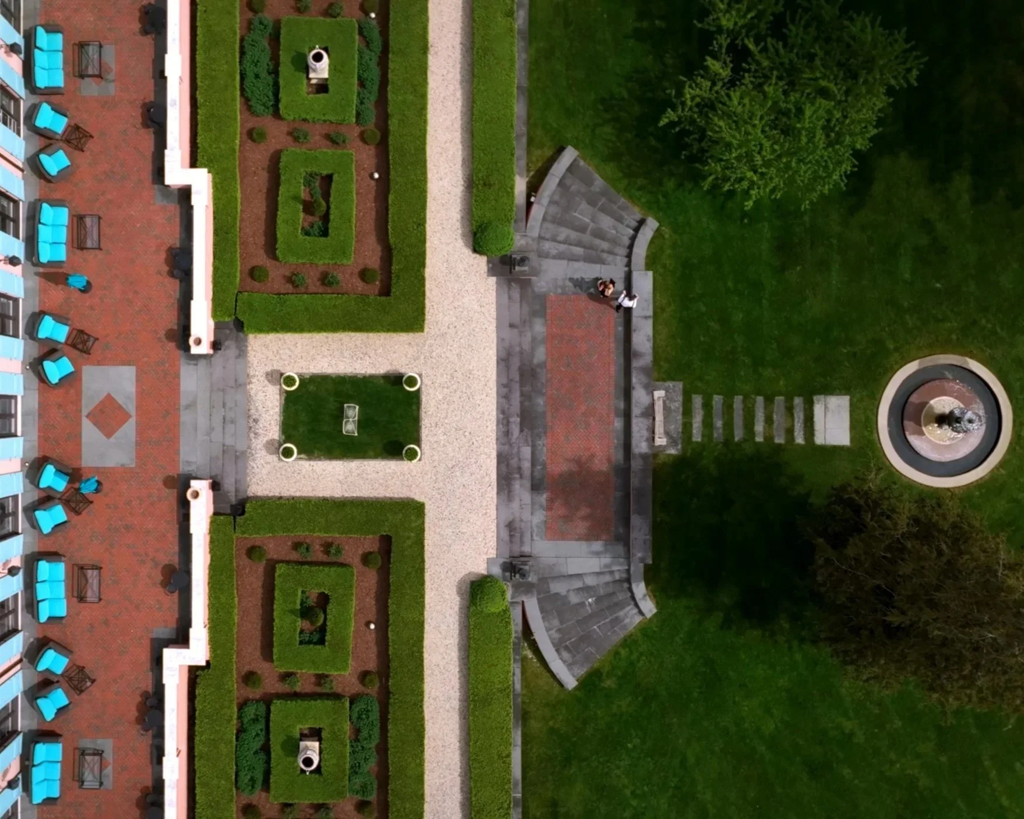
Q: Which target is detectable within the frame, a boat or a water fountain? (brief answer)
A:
water fountain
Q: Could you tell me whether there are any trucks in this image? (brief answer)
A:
No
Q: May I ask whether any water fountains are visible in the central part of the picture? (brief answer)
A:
No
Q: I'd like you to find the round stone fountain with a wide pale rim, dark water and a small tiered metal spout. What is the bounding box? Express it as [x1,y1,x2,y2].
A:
[875,354,1011,488]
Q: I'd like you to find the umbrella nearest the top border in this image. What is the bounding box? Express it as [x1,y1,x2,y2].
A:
[62,271,92,291]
